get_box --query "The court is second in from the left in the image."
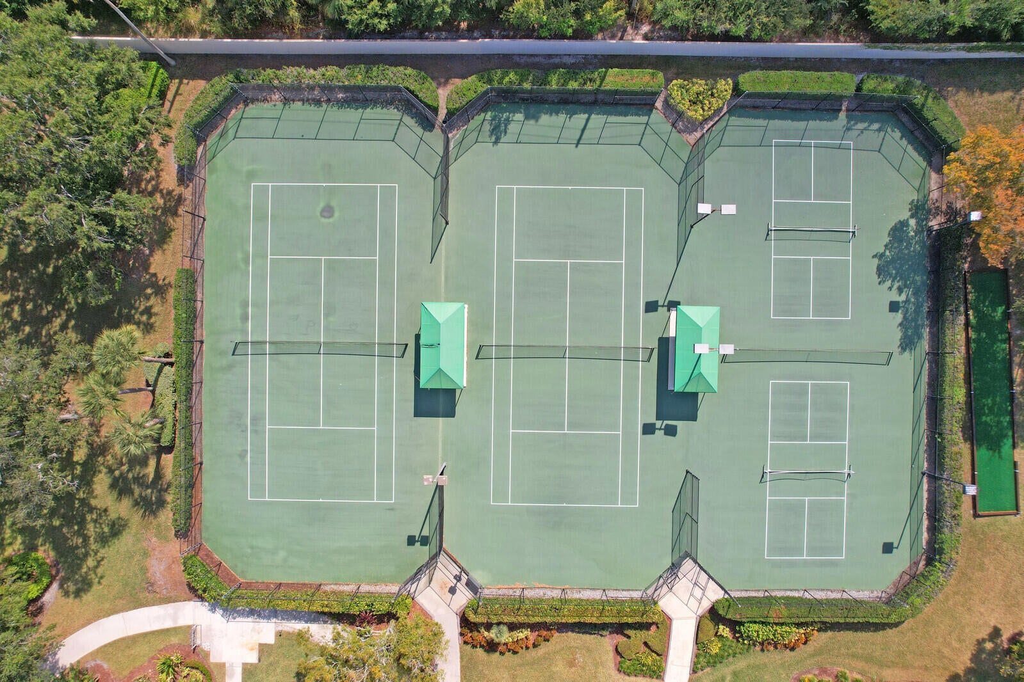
[443,103,692,590]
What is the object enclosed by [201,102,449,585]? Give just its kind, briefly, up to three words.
tennis court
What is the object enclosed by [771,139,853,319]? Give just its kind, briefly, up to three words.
sports court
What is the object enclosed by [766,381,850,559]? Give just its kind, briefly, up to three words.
sports court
